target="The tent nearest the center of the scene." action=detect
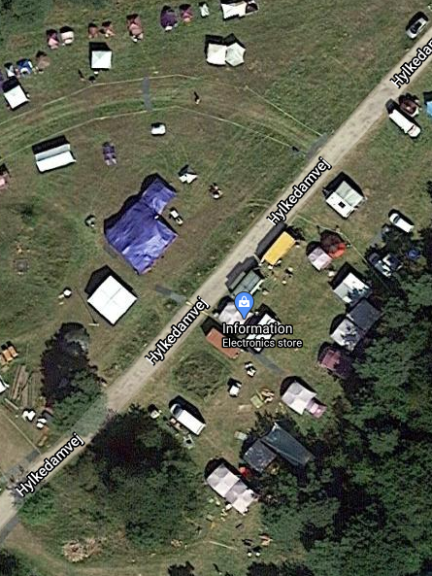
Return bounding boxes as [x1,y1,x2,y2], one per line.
[219,298,252,329]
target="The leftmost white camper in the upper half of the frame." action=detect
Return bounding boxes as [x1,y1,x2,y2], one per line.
[326,191,356,220]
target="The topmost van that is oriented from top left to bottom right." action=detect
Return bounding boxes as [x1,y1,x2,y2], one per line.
[388,103,423,137]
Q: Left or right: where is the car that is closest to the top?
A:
right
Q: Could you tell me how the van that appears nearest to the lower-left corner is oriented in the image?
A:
diagonally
